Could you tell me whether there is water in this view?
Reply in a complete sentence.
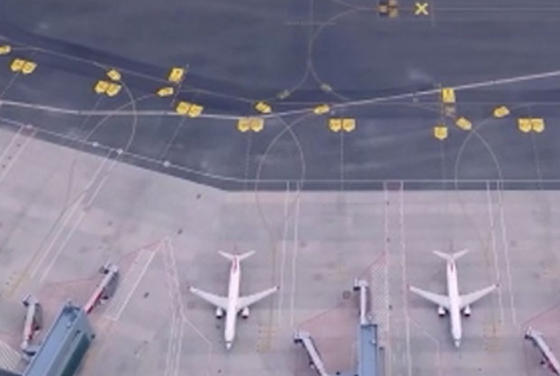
No, there's no water in this view.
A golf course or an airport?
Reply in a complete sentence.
It's an airport.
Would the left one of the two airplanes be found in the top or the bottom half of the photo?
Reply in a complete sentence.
It is in the bottom half that the left one of the two airplanes appears.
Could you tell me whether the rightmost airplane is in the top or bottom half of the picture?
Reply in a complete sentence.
The rightmost airplane is in the bottom half of the image.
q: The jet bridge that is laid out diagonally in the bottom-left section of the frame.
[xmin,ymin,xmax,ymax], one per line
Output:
[80,263,118,320]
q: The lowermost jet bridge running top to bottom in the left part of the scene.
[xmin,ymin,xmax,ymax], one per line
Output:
[20,299,44,356]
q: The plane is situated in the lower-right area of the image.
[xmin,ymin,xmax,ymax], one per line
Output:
[408,247,499,348]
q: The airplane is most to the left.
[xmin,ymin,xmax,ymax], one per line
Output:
[187,250,278,350]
